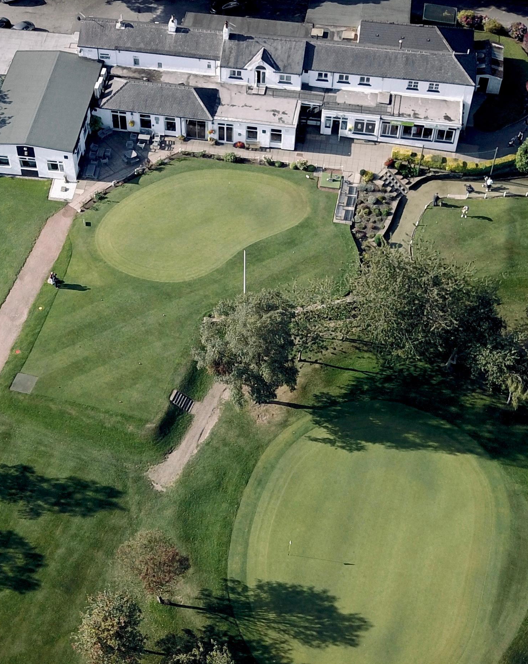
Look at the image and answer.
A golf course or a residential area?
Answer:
golf course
